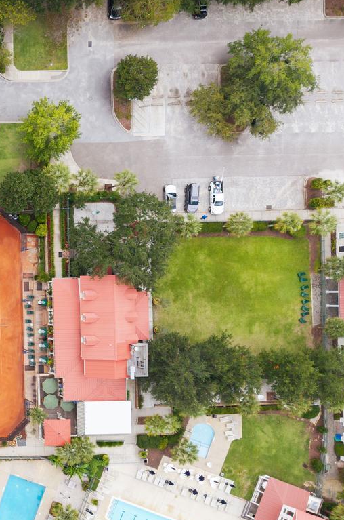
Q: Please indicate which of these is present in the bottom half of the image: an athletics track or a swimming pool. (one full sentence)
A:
There is a swimming pool in the bottom half of the image.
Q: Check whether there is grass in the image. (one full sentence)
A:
Yes, there is grass in the image.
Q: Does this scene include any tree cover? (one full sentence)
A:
Yes, there is tree cover in the image.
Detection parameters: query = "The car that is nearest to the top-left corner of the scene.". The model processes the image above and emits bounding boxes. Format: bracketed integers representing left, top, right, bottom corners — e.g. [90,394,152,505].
[107,0,120,19]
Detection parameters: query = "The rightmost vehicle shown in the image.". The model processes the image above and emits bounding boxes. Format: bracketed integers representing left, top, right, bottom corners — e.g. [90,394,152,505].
[207,180,225,215]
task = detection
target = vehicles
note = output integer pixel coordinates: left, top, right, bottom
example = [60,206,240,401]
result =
[162,184,178,207]
[107,0,120,19]
[183,183,200,212]
[193,0,209,20]
[207,180,225,215]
